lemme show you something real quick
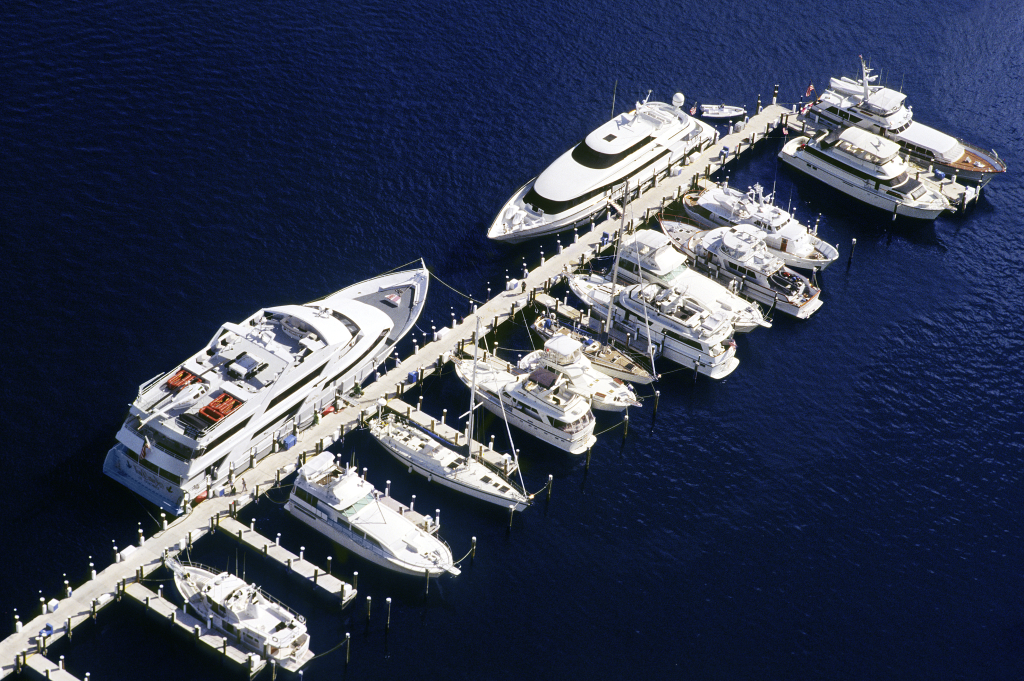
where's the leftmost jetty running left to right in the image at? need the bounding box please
[22,657,79,681]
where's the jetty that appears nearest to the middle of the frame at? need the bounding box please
[464,344,533,378]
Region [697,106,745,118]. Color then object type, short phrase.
white boat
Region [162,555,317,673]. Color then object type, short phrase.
white boat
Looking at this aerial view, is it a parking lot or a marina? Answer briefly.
marina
